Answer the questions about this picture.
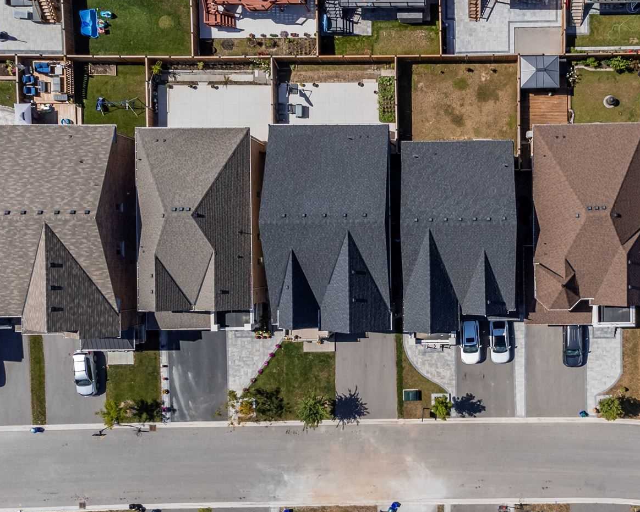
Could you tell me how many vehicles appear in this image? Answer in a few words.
4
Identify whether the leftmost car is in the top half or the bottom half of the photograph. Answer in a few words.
bottom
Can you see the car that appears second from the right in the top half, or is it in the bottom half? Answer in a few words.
bottom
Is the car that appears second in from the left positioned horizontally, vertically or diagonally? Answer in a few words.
vertically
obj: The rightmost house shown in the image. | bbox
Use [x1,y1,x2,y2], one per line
[525,121,640,326]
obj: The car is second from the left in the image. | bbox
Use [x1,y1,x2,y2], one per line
[459,319,482,363]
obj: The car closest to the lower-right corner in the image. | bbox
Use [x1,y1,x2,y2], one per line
[562,325,586,367]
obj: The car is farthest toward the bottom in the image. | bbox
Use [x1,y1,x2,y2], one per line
[72,351,99,396]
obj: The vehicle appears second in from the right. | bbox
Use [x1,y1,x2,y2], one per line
[489,319,511,363]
